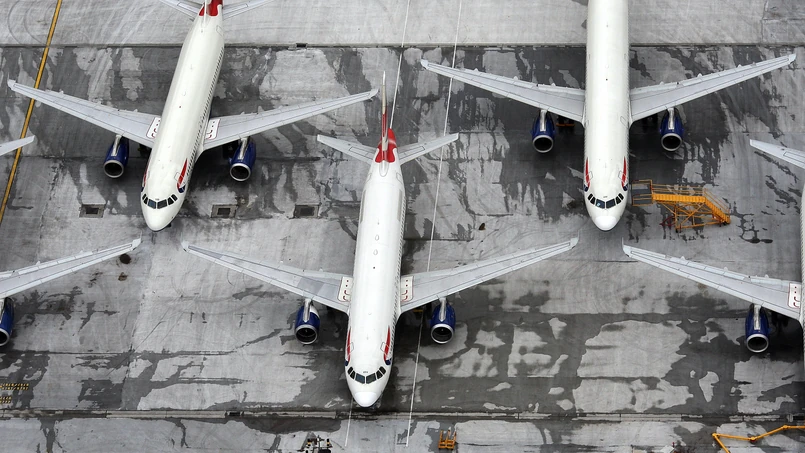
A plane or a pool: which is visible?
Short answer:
plane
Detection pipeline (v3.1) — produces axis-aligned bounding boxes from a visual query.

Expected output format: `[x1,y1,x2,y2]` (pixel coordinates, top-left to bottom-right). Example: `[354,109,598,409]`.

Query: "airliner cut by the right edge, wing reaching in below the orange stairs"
[627,137,805,350]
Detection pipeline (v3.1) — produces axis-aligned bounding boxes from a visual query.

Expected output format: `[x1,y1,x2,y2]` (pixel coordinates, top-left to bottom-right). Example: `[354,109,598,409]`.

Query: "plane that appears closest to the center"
[185,74,575,408]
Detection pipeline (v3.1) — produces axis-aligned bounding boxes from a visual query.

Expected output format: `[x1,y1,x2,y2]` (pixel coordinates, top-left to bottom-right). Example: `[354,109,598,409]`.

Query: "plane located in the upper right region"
[425,0,792,233]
